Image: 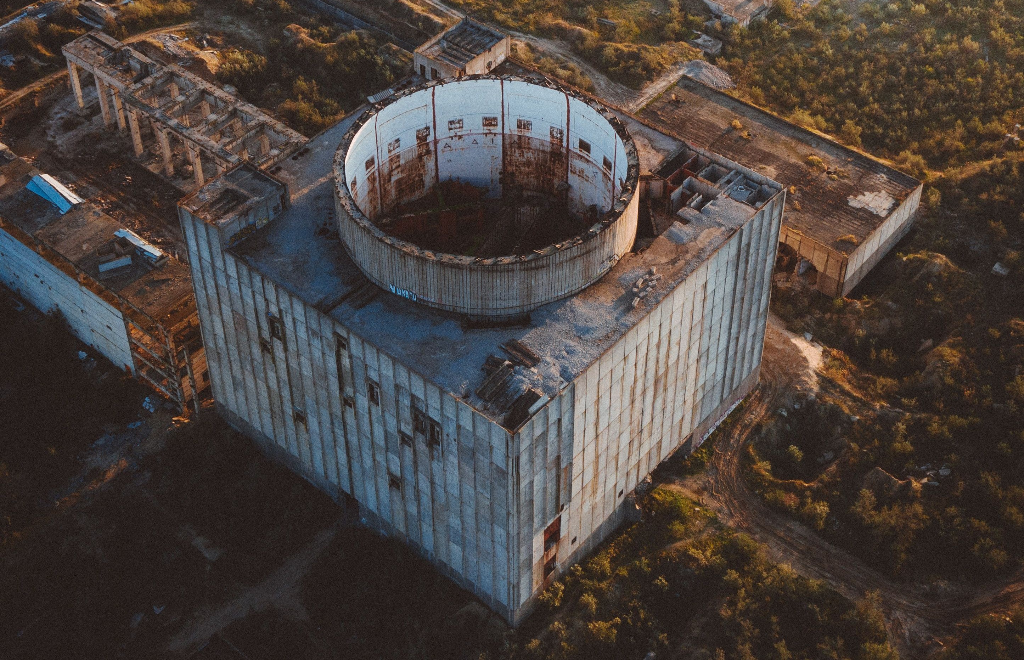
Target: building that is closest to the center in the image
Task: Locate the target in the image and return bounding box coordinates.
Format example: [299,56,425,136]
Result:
[175,14,790,624]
